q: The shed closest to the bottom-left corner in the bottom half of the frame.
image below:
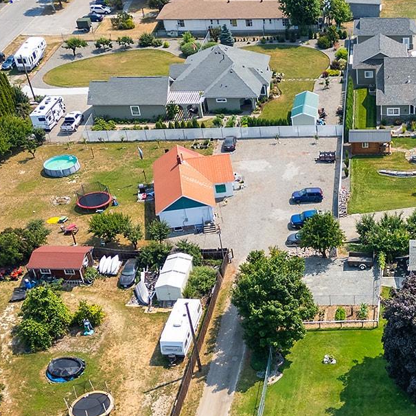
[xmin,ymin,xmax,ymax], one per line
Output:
[27,243,95,283]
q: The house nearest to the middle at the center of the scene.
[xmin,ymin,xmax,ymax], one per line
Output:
[153,147,235,238]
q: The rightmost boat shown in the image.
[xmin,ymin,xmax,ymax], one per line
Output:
[134,285,155,304]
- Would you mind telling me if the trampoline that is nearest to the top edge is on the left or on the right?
left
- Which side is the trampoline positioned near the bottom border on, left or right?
left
